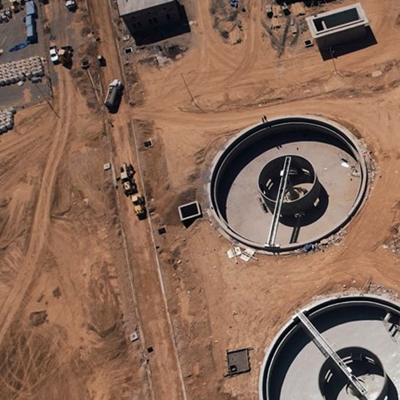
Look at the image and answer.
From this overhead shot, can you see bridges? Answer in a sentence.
Yes, a bridge can be made out from above.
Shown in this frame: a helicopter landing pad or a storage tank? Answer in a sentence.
Visible in the photo is a storage tank.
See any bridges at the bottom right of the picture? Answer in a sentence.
Yes, you'll find a bridge at the bottom right of the picture.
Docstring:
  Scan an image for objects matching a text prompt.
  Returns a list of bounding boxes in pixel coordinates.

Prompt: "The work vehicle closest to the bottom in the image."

[128,191,147,220]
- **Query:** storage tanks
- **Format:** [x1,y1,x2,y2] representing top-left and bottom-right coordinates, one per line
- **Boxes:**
[207,116,371,253]
[255,294,400,400]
